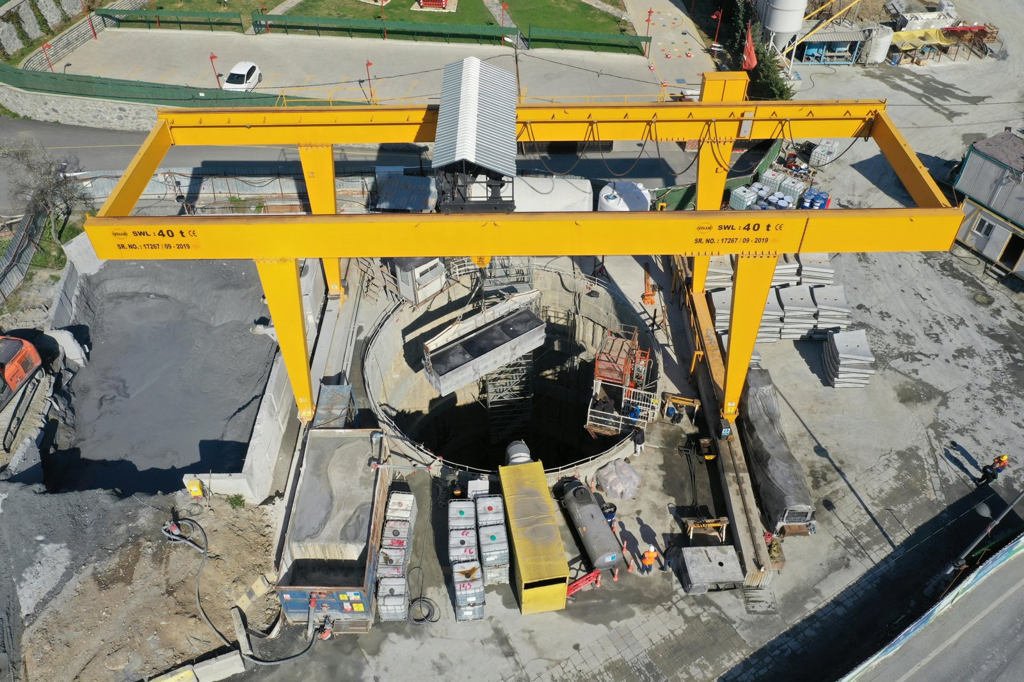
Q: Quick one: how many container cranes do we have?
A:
1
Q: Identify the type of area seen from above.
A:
industrial area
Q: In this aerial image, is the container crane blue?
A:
No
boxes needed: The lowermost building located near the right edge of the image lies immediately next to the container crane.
[953,206,1024,301]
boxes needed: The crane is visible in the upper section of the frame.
[85,53,966,428]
